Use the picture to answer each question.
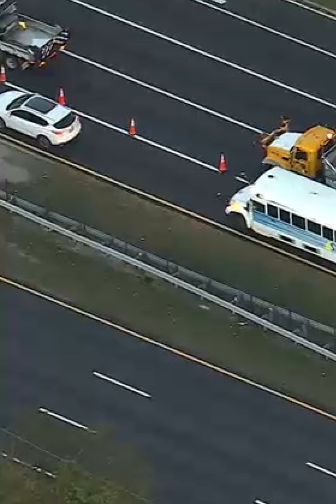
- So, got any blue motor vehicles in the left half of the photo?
No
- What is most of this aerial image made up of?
paved ground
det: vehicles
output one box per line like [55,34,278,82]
[222,166,336,264]
[258,116,336,189]
[0,91,78,147]
[0,2,67,70]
